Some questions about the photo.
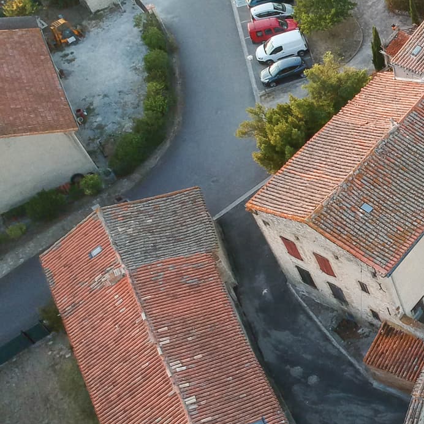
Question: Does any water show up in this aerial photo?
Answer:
No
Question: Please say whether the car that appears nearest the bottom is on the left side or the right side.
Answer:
right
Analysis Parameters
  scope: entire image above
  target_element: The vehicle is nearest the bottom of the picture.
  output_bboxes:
[254,51,304,85]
